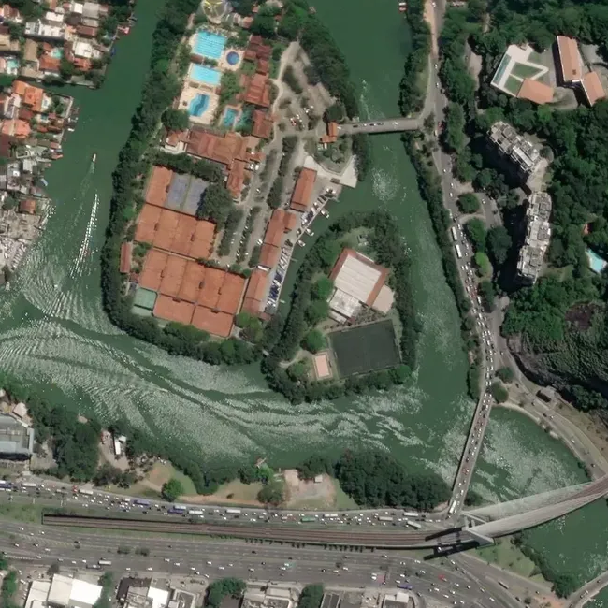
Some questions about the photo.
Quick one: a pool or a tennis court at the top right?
pool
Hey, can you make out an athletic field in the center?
Yes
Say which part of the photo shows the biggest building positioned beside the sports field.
center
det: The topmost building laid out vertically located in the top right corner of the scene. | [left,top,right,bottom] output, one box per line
[557,35,583,83]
